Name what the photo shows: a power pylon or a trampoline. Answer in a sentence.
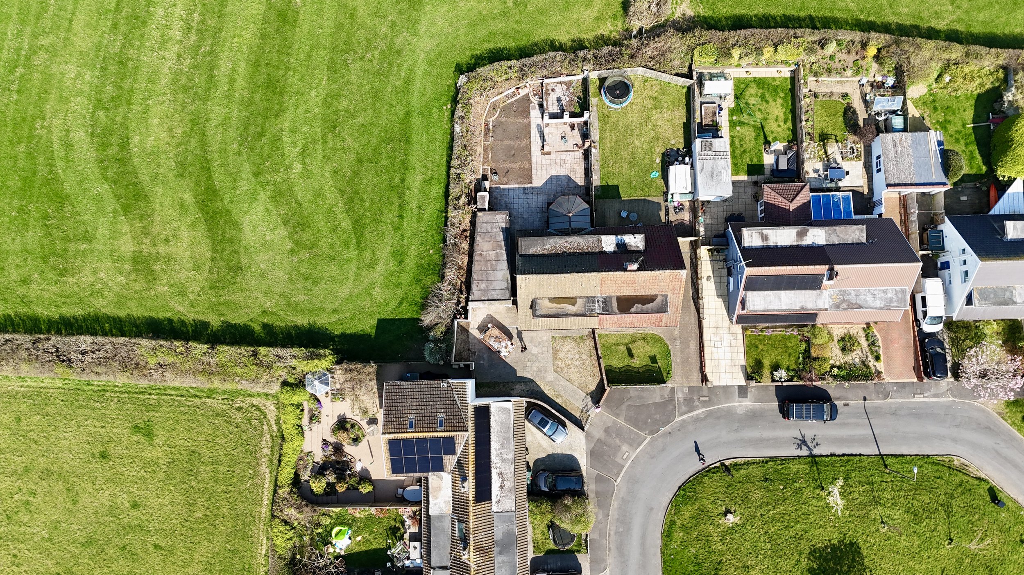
The image shows a trampoline.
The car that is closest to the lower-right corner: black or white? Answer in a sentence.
From above, the car that is closest to the lower-right corner appears black.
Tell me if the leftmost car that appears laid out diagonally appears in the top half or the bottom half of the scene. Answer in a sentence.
Seen from above, the leftmost car that appears laid out diagonally lies in the bottom half of the view.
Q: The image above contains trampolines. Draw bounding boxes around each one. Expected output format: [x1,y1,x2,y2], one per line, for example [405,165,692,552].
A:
[550,524,578,552]
[602,73,635,110]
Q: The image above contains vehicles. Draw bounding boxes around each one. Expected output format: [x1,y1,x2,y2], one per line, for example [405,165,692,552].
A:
[919,277,948,332]
[780,399,836,425]
[534,469,586,496]
[527,404,572,446]
[923,337,949,381]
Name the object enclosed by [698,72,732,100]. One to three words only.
greenhouse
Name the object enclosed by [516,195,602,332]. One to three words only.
house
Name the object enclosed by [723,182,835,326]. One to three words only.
house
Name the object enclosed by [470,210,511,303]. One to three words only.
building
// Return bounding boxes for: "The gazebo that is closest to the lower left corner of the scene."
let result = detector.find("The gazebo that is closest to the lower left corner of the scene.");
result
[306,370,333,396]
